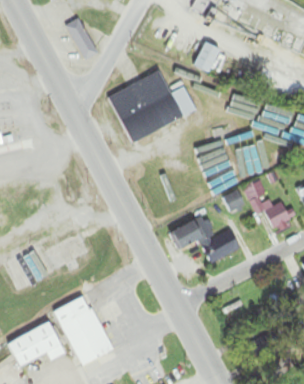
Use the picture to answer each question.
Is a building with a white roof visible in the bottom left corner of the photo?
Yes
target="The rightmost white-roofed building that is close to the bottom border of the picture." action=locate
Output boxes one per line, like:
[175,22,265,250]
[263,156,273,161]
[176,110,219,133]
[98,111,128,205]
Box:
[54,296,112,366]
